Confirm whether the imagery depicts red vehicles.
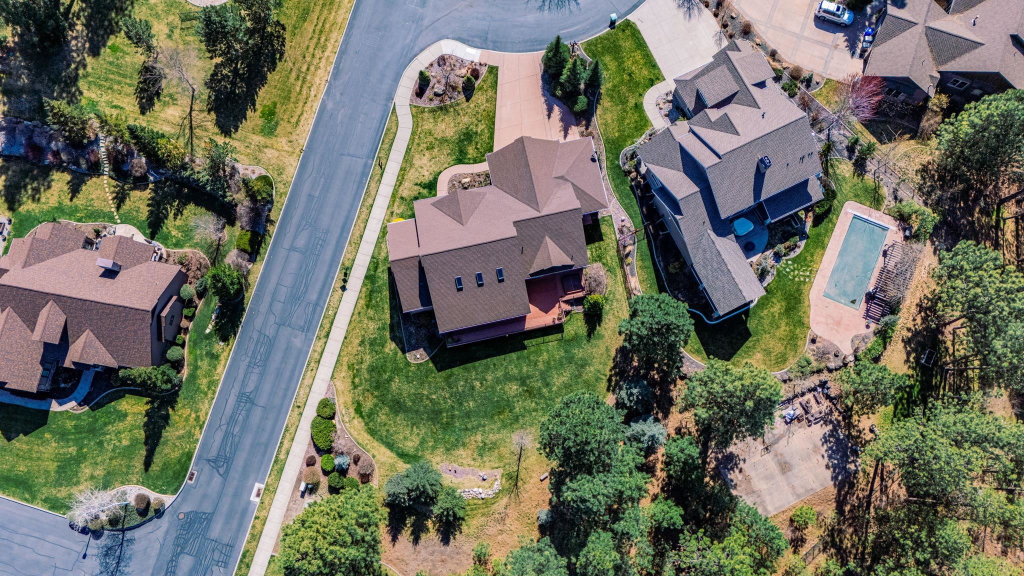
No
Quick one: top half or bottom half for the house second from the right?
top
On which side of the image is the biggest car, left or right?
right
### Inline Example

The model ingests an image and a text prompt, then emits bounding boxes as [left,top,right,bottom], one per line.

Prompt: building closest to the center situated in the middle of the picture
[387,135,609,347]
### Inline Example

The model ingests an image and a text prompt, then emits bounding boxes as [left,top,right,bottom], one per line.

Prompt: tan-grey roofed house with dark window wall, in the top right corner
[860,0,1024,113]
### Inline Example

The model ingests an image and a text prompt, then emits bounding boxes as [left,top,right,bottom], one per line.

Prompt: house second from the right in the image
[635,39,824,316]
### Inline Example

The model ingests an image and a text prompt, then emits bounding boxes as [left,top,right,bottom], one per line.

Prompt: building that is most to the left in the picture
[0,223,189,393]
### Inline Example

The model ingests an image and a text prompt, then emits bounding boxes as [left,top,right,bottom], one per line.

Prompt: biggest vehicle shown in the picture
[817,2,855,26]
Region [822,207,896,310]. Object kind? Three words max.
swimming pool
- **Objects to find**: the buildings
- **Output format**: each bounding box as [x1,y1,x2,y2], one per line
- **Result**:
[387,135,609,347]
[0,223,189,393]
[635,39,824,316]
[860,0,1024,113]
